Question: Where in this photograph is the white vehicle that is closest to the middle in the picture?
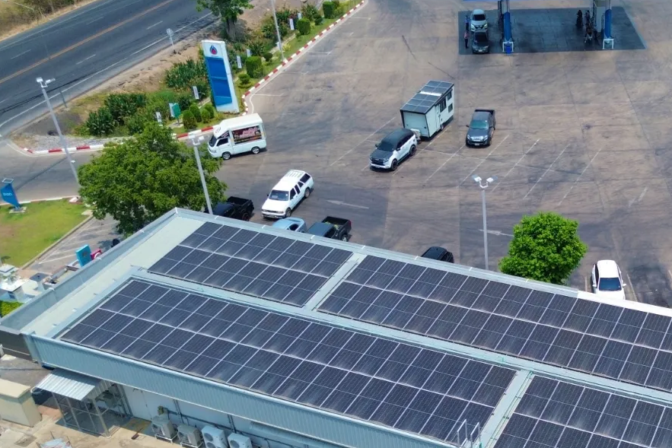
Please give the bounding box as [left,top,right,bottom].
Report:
[260,171,312,217]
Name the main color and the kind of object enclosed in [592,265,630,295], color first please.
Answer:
white car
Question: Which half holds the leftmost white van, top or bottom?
top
